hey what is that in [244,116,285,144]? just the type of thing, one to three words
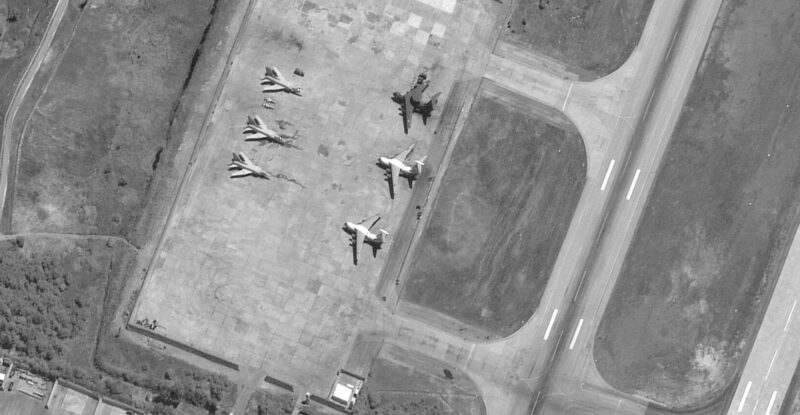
airplane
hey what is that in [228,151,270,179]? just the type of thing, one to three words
airplane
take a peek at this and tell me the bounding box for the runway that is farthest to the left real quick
[498,0,722,415]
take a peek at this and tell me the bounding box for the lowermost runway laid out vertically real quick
[726,221,800,415]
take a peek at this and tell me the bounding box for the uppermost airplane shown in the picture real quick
[260,67,302,96]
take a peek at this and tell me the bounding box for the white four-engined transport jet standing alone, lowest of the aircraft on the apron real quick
[346,210,392,257]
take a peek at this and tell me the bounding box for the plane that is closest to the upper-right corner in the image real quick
[395,79,441,127]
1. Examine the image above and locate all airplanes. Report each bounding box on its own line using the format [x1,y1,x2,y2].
[260,67,302,96]
[228,151,270,179]
[395,79,441,127]
[346,210,392,257]
[244,116,285,144]
[380,143,428,191]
